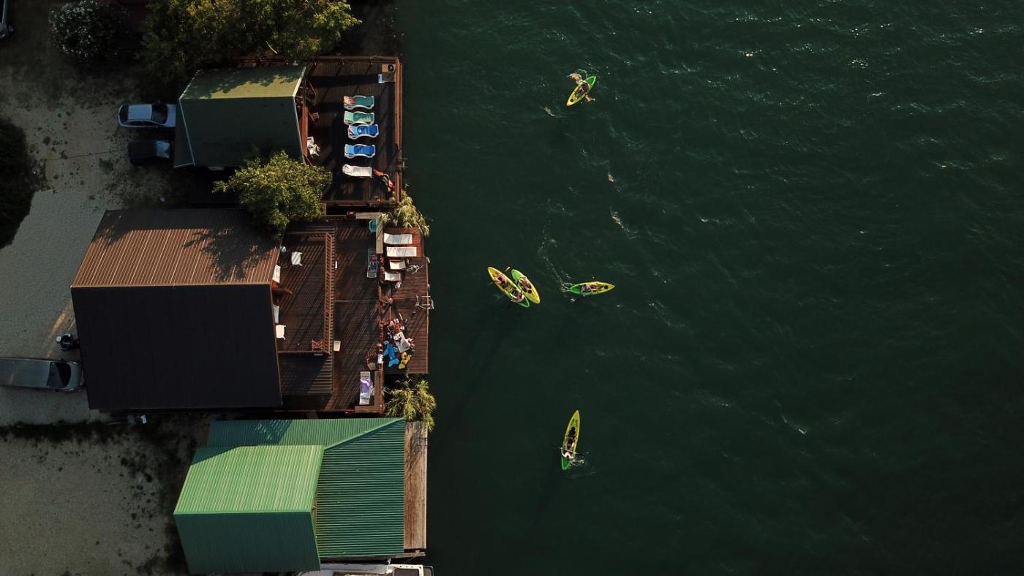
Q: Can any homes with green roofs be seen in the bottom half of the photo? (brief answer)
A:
Yes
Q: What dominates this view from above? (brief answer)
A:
water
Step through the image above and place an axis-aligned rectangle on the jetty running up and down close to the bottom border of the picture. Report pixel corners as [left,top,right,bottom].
[402,421,428,549]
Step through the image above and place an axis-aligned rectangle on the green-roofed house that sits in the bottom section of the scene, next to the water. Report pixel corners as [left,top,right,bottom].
[173,417,404,576]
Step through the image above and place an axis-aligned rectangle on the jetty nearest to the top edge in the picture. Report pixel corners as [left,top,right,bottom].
[383,227,425,259]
